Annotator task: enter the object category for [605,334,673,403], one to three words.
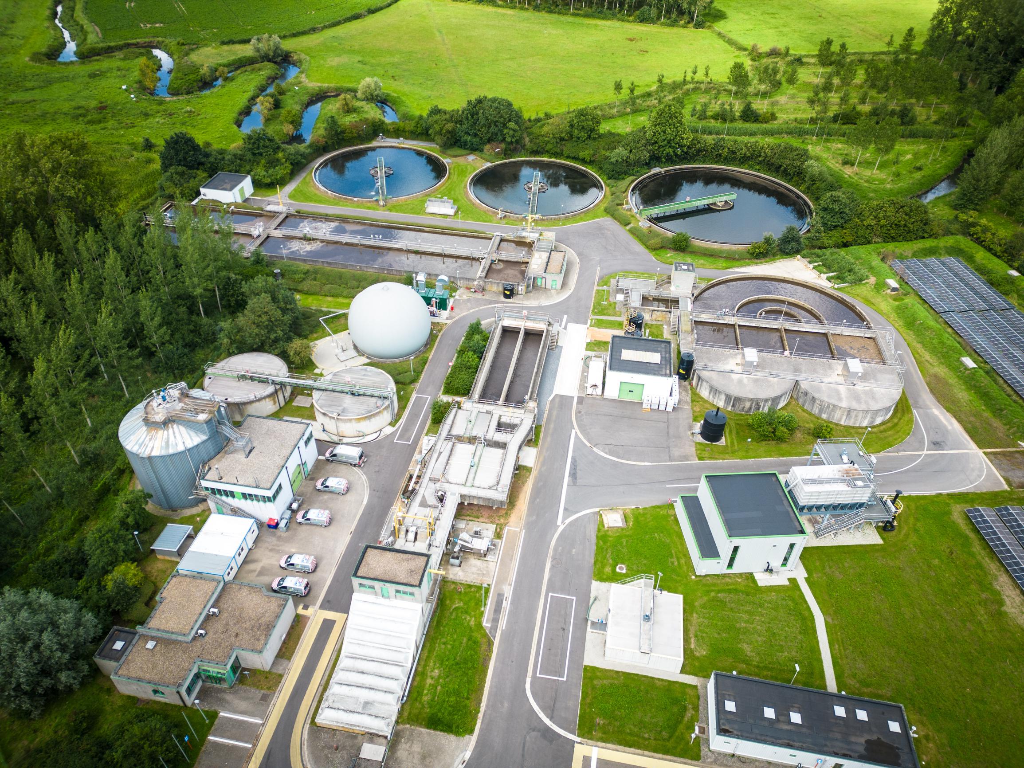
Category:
building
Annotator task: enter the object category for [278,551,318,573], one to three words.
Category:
vehicle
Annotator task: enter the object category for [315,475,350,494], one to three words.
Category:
vehicle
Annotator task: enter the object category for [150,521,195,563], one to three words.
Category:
shed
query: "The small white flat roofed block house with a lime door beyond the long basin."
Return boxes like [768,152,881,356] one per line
[200,172,253,202]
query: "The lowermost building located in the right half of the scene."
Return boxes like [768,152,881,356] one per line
[709,671,917,768]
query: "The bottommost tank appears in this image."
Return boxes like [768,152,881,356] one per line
[583,572,683,672]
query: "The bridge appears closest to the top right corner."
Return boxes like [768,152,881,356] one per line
[639,190,738,216]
